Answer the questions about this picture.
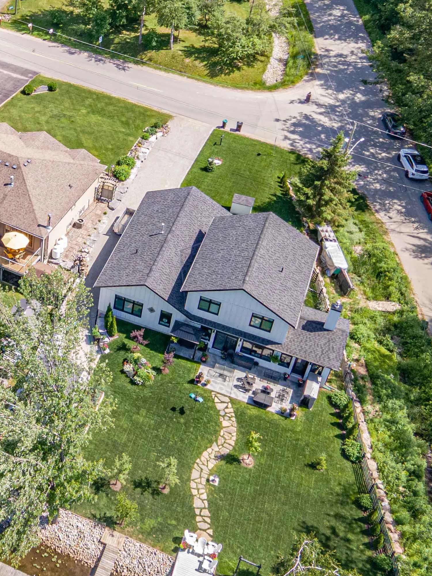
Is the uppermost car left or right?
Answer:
right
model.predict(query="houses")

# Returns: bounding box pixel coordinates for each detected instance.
[93,187,354,397]
[0,123,102,263]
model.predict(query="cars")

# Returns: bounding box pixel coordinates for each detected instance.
[378,112,414,139]
[396,147,432,180]
[418,189,432,220]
